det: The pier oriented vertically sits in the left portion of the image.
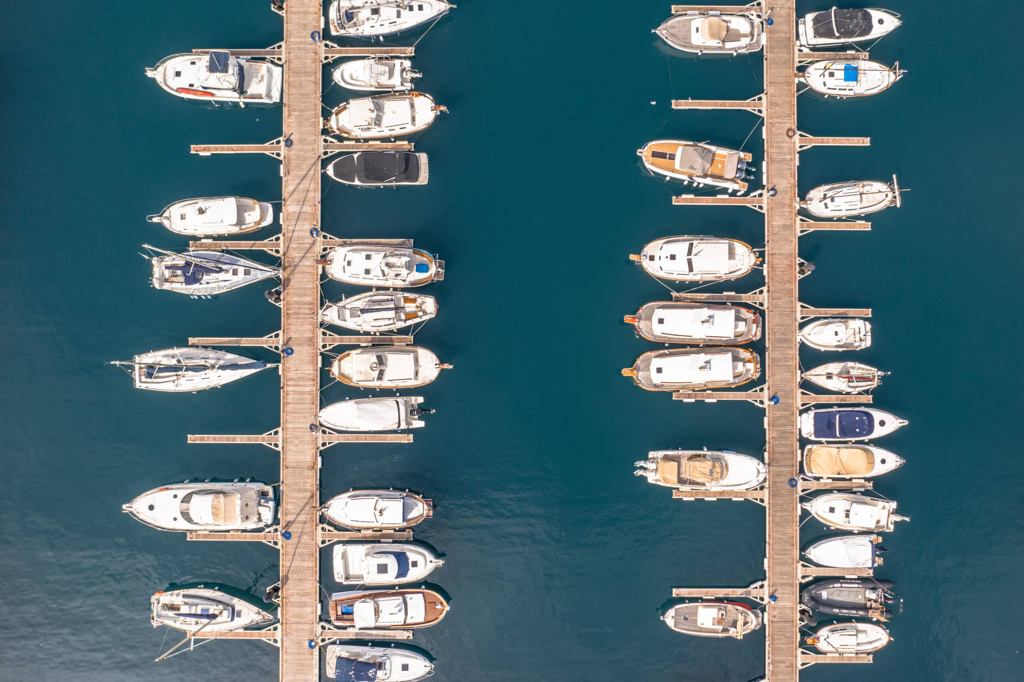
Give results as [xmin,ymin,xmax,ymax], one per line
[264,0,326,682]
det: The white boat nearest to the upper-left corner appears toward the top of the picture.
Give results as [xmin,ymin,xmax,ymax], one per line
[145,52,283,108]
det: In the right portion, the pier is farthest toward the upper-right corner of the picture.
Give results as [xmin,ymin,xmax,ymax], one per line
[795,43,870,68]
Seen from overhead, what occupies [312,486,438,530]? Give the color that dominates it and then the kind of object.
white boat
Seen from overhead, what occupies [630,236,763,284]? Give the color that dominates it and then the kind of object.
white boat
